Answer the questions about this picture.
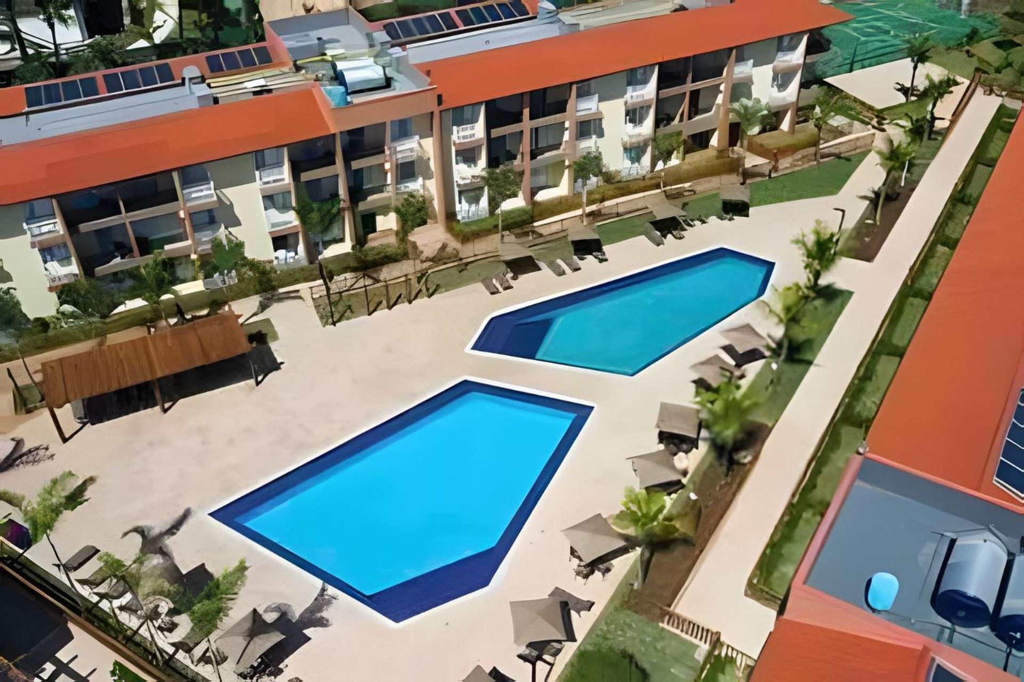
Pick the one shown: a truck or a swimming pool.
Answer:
swimming pool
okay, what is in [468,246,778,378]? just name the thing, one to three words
swimming pool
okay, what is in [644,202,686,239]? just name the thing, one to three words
umbrella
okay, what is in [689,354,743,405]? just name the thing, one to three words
umbrella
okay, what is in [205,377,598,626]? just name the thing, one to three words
swimming pool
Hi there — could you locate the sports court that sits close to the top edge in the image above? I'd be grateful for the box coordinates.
[809,0,1010,84]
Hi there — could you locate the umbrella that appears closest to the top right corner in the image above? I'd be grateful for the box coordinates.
[710,184,752,221]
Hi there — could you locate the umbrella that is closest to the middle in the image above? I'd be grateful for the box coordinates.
[491,245,531,284]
